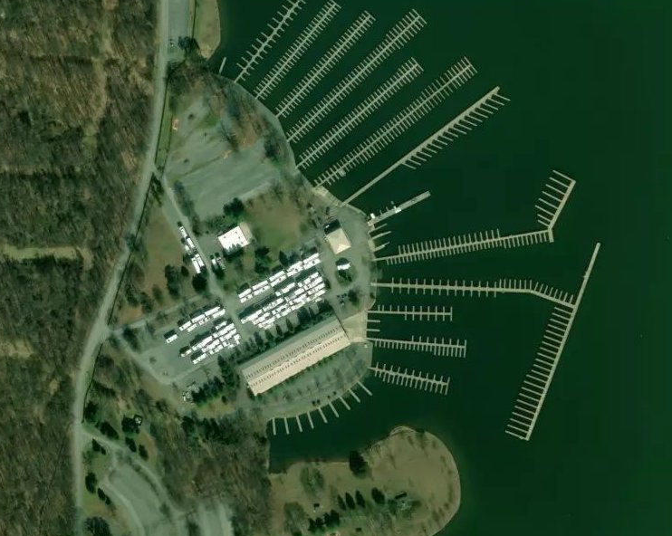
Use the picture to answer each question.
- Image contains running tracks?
No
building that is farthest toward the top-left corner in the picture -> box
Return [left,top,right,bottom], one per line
[220,223,255,252]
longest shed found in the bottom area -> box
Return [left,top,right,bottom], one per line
[239,316,350,395]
